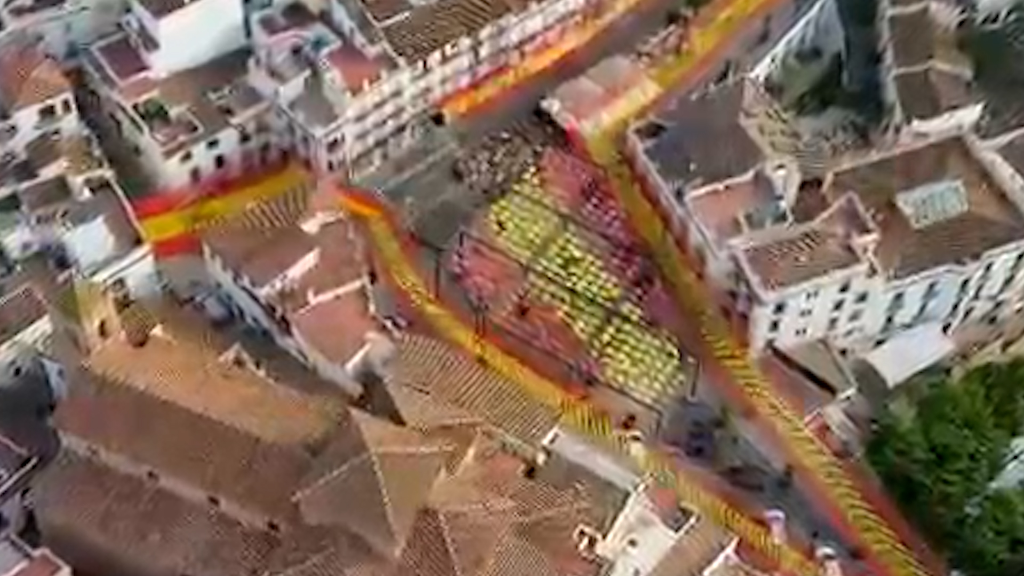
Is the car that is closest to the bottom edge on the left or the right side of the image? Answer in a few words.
right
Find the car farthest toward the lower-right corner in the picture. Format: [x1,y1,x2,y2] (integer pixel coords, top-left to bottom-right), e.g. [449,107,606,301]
[723,456,775,498]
